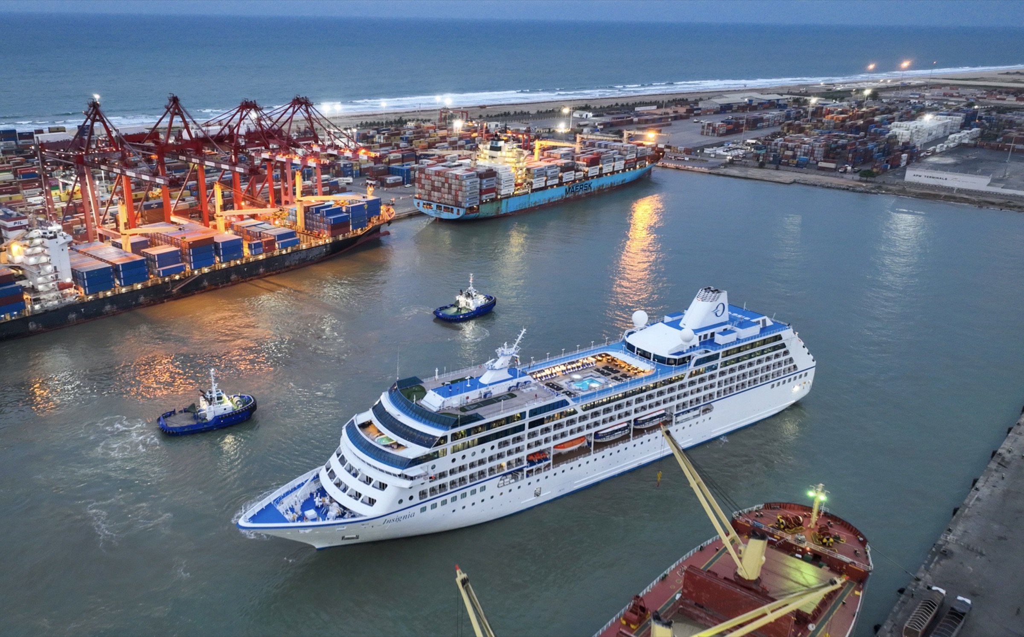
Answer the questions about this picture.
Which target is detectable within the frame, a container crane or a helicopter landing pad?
container crane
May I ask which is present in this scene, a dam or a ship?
ship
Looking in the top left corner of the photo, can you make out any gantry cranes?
Yes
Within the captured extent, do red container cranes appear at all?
Yes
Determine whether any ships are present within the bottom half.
Yes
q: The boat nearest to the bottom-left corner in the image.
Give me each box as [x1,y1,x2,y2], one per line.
[154,368,259,438]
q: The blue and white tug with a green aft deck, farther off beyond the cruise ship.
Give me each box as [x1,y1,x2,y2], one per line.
[430,267,498,319]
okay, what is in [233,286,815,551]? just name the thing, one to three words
ship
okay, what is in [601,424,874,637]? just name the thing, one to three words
ship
